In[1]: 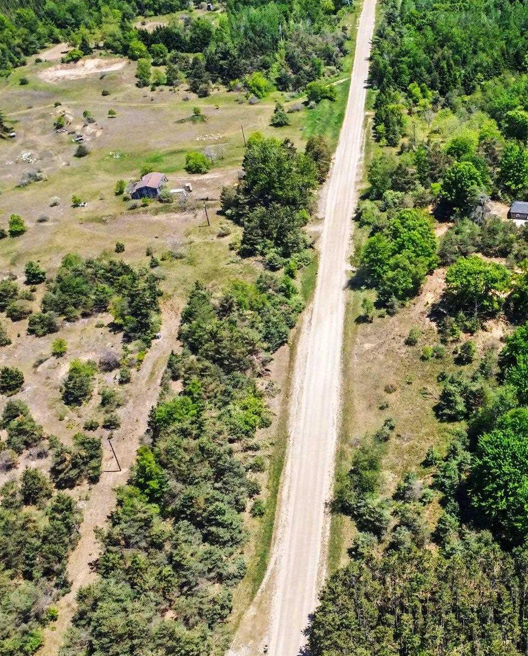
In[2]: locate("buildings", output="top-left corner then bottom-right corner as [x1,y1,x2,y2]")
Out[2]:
[510,202,528,221]
[126,174,167,203]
